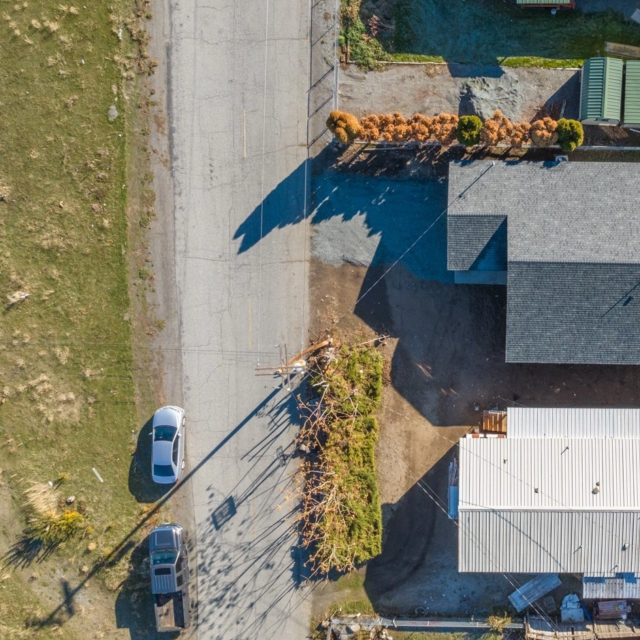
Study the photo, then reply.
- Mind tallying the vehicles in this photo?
2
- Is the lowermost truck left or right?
left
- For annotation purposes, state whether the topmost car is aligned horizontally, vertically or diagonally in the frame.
vertically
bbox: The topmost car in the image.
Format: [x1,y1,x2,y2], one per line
[146,405,186,485]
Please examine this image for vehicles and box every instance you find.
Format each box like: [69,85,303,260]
[146,405,186,485]
[144,521,190,631]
